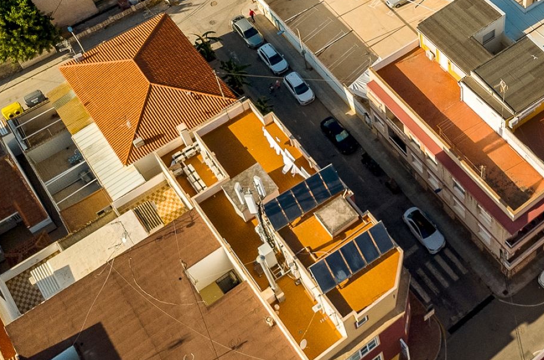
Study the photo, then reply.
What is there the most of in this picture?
buildings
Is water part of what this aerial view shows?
No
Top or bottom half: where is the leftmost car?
top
